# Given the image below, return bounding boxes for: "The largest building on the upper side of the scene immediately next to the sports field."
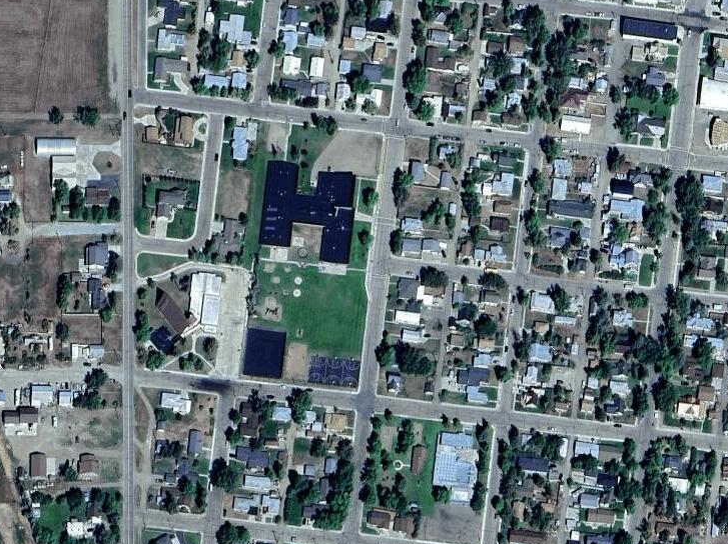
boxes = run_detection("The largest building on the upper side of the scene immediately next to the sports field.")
[259,161,356,267]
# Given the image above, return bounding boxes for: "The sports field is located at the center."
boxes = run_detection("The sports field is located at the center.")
[248,262,370,356]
